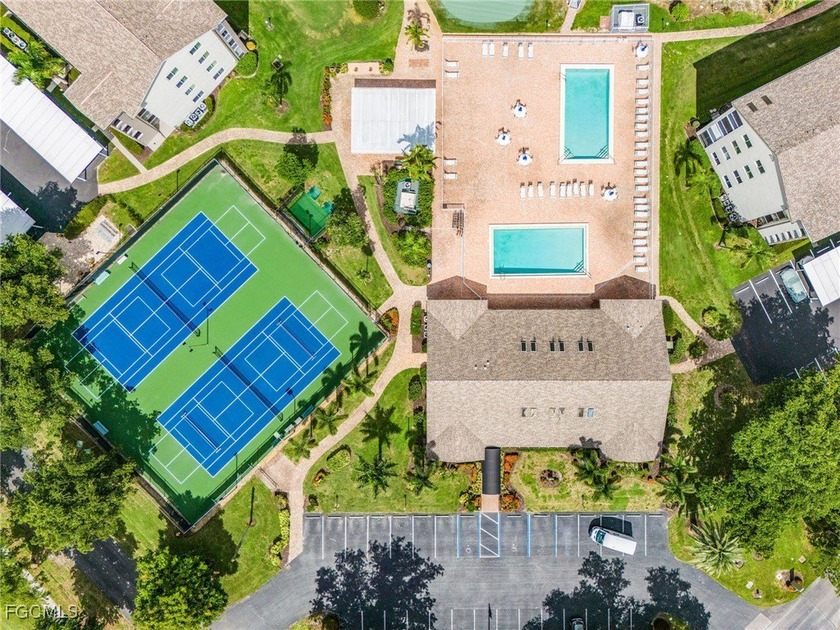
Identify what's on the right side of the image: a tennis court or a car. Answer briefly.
car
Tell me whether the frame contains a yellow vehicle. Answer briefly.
No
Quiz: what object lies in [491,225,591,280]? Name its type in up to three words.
swimming pool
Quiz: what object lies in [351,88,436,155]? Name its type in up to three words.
building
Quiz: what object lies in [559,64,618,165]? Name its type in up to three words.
swimming pool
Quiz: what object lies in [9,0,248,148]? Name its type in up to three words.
building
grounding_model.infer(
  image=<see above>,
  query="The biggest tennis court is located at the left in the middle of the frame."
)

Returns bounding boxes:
[25,158,387,532]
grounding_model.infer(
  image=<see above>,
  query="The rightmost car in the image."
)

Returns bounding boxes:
[778,267,808,303]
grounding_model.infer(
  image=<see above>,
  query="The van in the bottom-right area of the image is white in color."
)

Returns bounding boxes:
[589,527,641,559]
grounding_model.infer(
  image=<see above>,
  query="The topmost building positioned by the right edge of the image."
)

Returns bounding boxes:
[696,47,840,246]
